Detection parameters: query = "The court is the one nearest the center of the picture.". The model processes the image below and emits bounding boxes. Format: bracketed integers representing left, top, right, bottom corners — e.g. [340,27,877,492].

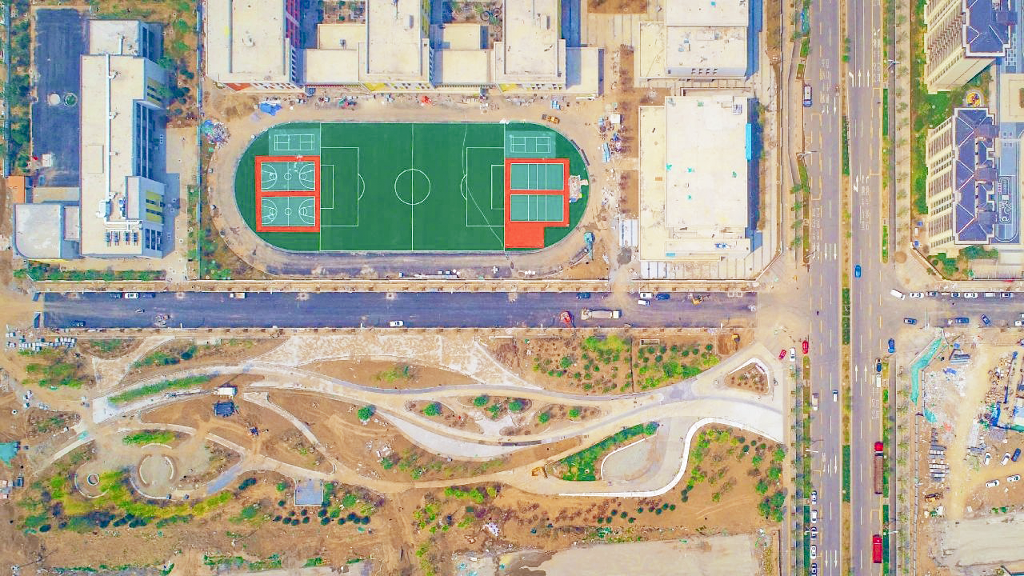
[511,194,563,222]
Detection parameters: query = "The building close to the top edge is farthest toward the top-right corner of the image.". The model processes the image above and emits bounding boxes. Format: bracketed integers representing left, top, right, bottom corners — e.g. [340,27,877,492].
[922,0,1023,75]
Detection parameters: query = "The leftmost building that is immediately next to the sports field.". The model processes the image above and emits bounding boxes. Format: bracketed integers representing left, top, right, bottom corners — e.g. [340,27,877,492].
[80,19,165,256]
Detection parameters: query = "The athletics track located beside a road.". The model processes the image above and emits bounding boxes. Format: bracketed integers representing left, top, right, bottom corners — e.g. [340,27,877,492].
[209,96,614,278]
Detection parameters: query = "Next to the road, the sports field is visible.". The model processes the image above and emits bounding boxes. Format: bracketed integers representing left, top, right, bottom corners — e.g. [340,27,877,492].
[233,121,590,253]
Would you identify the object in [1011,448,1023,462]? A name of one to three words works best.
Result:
vehicle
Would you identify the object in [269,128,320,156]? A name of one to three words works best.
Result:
sports court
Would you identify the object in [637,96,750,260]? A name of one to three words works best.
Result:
building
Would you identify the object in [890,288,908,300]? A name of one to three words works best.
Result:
vehicle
